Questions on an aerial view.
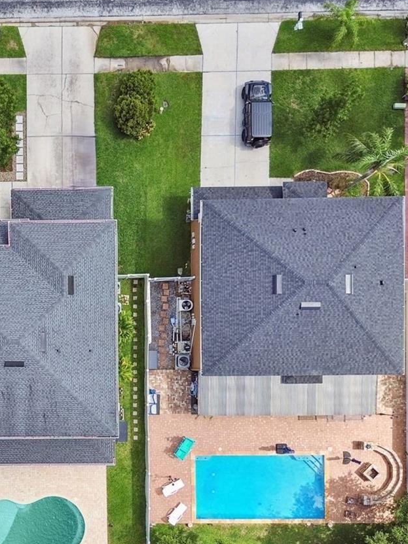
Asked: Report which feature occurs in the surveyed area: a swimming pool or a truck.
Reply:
swimming pool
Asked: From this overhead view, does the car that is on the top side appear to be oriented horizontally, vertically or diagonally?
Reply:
vertically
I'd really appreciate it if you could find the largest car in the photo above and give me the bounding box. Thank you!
[242,77,273,144]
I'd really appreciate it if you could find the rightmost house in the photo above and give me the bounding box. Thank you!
[189,180,407,384]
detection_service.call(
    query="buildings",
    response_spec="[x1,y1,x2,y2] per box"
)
[189,180,407,384]
[0,185,120,467]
